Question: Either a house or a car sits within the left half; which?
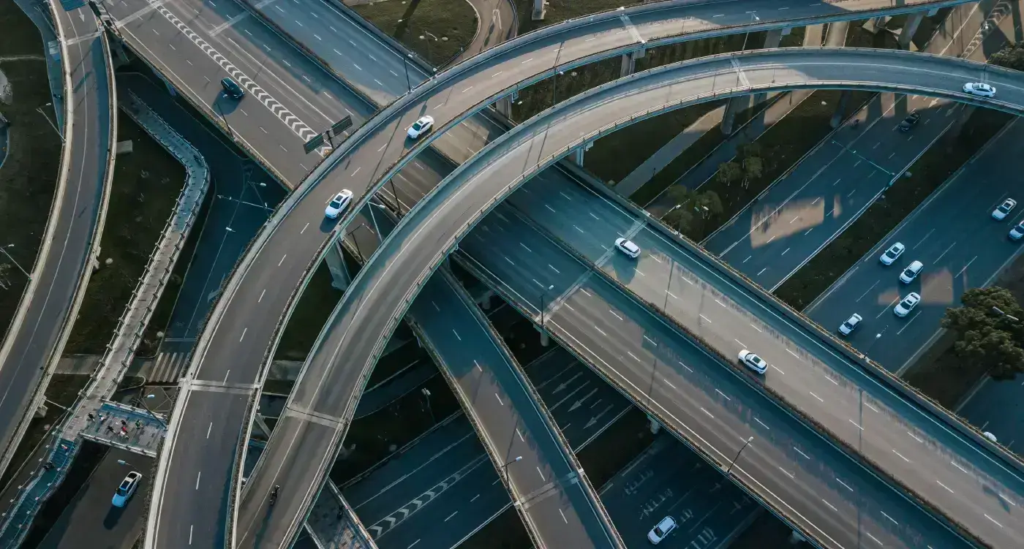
car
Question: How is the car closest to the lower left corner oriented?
on a diagonal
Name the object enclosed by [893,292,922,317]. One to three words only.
car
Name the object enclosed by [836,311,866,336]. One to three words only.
car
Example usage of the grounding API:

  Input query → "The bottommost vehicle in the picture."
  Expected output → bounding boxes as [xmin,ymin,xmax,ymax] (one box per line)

[645,513,679,545]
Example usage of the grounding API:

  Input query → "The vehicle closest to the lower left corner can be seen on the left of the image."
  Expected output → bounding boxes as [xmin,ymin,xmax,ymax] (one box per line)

[111,472,141,507]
